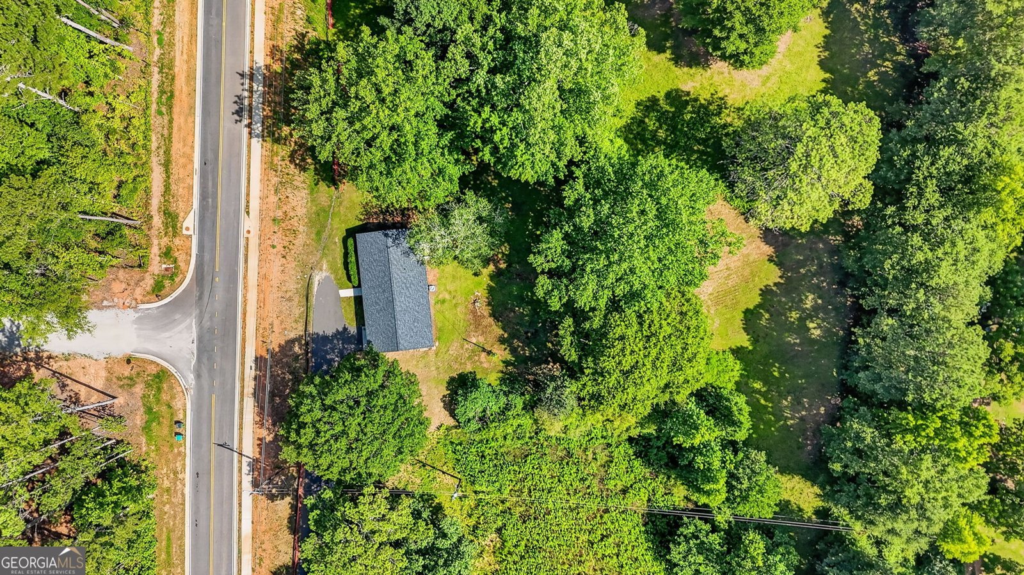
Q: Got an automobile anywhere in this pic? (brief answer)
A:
No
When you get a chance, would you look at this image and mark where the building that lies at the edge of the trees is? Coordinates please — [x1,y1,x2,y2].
[355,228,434,353]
